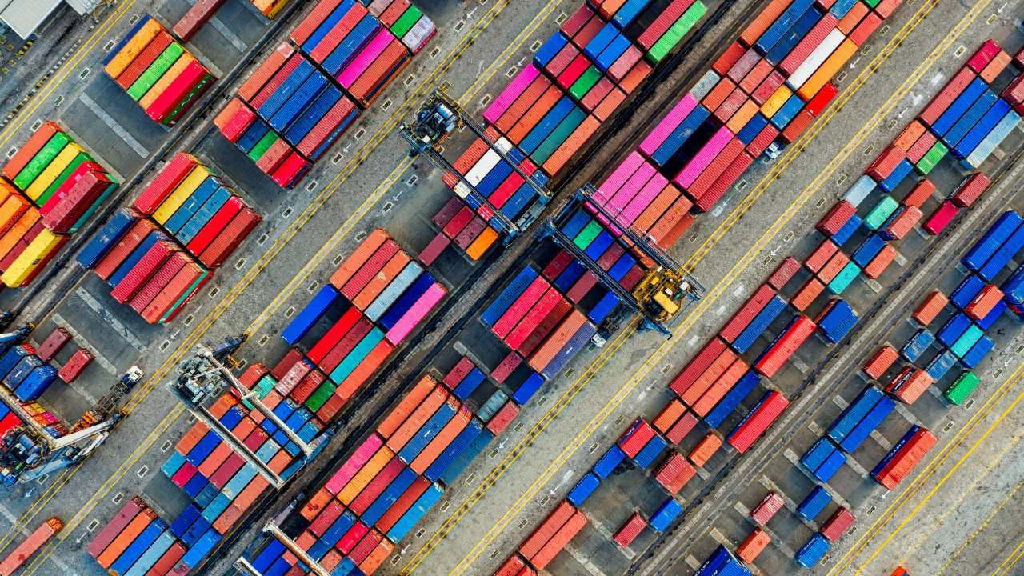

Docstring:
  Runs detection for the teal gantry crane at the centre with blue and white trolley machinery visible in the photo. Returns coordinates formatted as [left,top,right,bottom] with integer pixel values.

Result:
[399,86,556,250]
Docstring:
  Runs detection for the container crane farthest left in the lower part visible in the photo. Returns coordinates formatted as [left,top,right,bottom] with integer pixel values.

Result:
[0,380,127,482]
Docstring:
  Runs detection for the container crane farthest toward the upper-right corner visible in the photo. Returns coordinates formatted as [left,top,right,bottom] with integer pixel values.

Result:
[533,183,706,341]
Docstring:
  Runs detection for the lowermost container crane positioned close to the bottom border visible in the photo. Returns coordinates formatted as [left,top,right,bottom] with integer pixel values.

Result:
[230,482,334,576]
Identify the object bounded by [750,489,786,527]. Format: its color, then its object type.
pink shipping container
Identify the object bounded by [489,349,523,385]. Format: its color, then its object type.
red shipping container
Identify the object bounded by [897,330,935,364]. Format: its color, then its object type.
blue shipping container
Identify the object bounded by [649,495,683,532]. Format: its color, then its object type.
blue shipping container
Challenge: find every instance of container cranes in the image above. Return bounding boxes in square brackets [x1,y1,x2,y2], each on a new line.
[399,86,556,250]
[230,482,334,576]
[533,183,706,341]
[162,325,350,489]
[0,380,127,482]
